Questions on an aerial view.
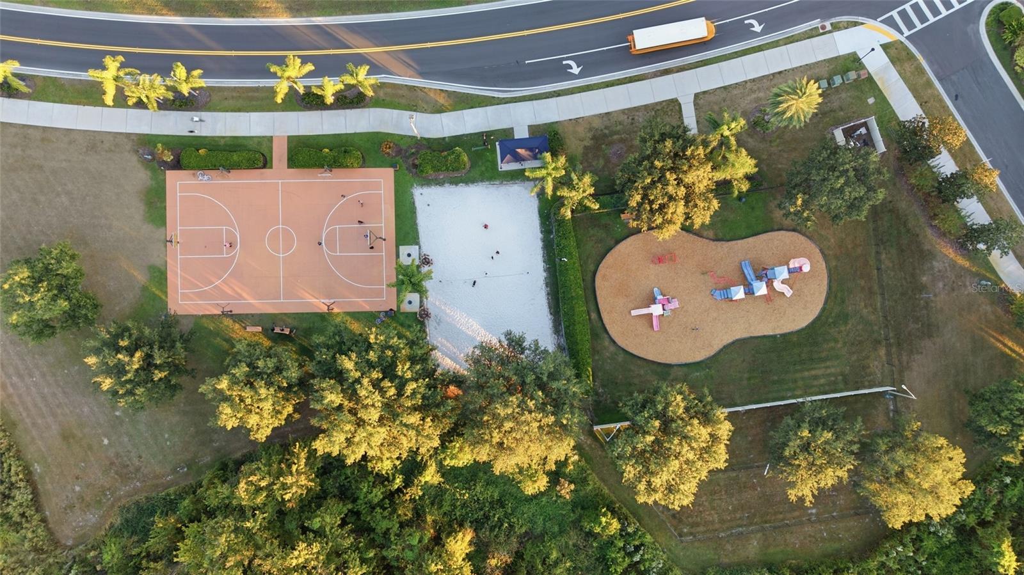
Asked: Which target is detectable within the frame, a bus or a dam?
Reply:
bus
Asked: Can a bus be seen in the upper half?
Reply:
Yes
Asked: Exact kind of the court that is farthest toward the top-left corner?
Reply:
basketball court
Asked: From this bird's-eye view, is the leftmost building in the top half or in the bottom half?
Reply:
top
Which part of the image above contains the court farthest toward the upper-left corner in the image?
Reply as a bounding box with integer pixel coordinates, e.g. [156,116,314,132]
[166,167,396,314]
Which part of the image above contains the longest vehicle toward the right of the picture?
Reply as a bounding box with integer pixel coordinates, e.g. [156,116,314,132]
[628,14,717,56]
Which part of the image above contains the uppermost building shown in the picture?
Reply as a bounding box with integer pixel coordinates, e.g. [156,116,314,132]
[497,135,551,171]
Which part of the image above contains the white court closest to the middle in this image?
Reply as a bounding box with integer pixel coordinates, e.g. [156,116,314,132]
[410,180,559,380]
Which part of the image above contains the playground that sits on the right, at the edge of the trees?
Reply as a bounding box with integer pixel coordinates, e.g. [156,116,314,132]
[594,229,829,365]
